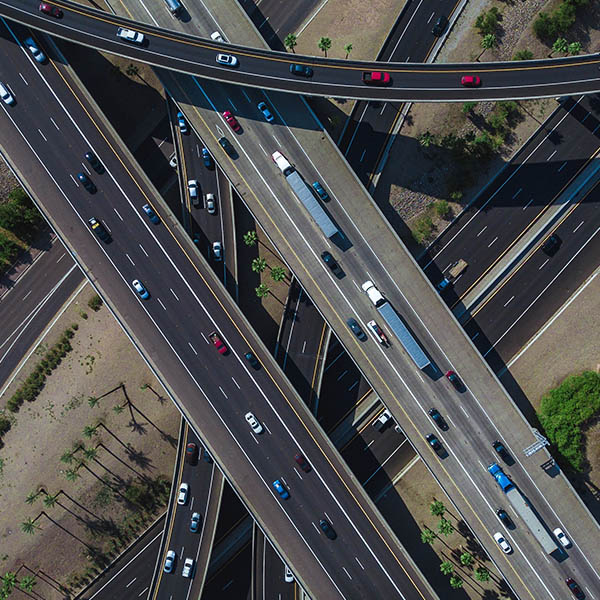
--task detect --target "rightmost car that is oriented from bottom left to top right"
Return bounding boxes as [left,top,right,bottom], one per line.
[541,234,560,254]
